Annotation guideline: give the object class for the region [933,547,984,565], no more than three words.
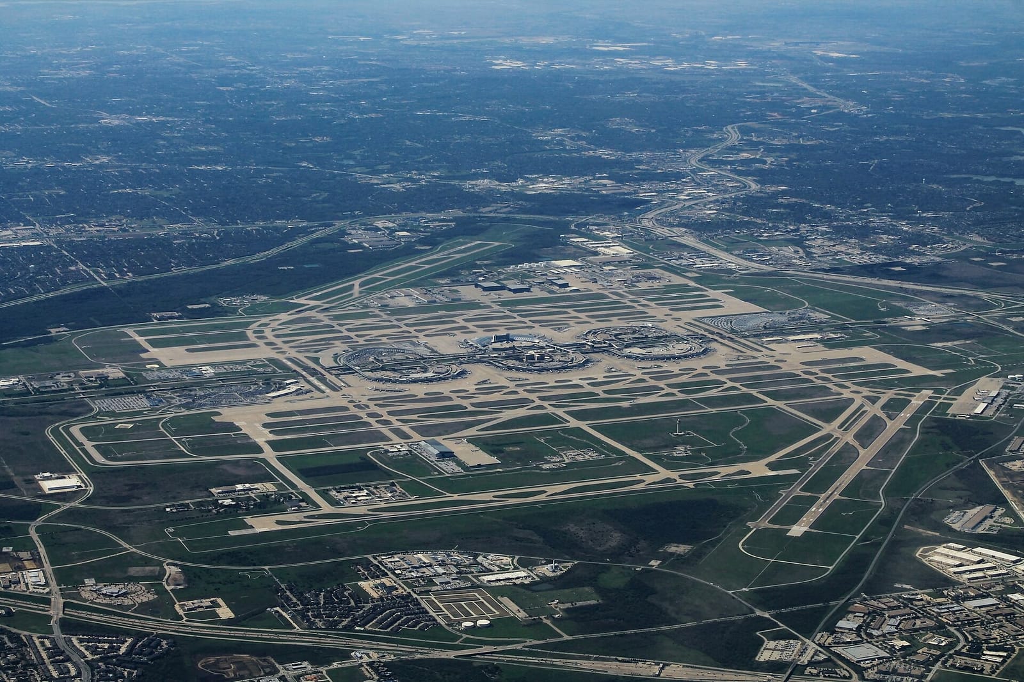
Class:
building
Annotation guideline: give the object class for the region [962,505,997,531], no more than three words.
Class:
building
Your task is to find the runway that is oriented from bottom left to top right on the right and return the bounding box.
[794,389,928,529]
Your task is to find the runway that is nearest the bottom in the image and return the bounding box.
[255,474,772,530]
